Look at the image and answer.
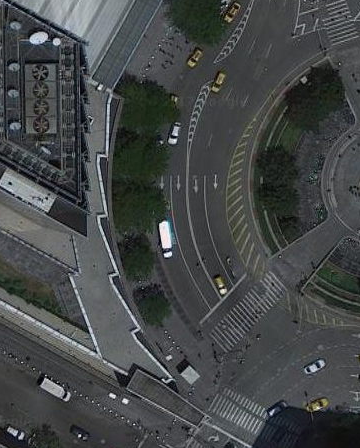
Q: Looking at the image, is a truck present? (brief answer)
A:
Yes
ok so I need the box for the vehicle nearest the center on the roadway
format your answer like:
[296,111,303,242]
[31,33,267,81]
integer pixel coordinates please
[156,218,174,258]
